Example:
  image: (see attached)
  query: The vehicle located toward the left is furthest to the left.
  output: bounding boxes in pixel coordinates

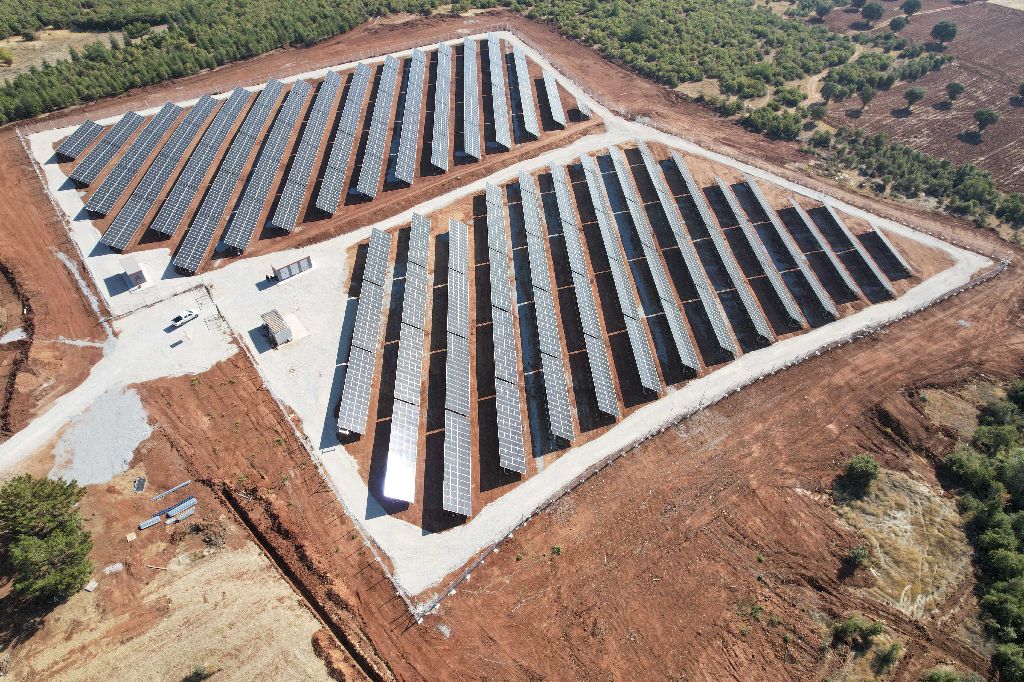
[171,308,200,326]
